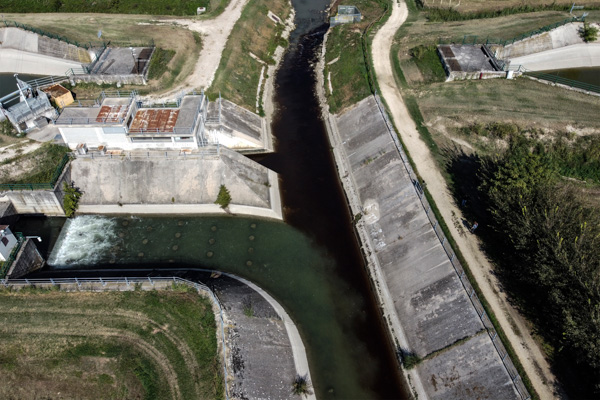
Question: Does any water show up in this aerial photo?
Yes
